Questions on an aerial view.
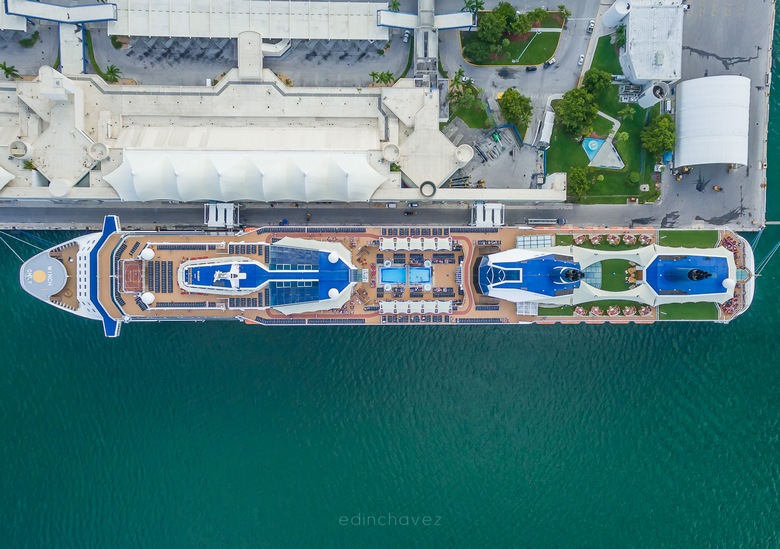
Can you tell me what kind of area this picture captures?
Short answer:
port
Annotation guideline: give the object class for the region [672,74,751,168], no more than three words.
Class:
hangar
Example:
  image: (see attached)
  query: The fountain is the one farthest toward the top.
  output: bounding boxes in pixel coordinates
[582,139,606,161]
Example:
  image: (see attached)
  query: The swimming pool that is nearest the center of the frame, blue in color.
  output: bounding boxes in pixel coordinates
[381,267,406,284]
